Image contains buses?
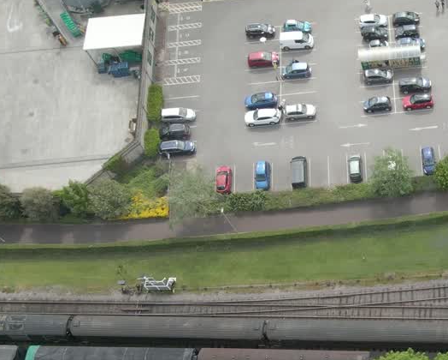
Yes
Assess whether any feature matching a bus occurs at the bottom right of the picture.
Yes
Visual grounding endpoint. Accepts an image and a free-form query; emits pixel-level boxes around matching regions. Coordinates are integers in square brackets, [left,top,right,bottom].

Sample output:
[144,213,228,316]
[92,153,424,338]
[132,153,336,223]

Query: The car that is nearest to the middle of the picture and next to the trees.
[215,168,234,196]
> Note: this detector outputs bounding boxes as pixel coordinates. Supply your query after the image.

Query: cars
[246,92,278,110]
[215,168,234,196]
[398,76,433,95]
[253,162,272,191]
[390,11,422,28]
[393,24,422,40]
[246,51,281,69]
[345,154,364,185]
[356,13,390,29]
[358,25,391,43]
[246,107,281,128]
[397,36,427,51]
[163,107,197,125]
[281,63,312,80]
[362,96,393,114]
[281,104,319,122]
[160,139,198,159]
[362,69,393,87]
[283,20,311,33]
[159,122,192,140]
[420,147,436,176]
[243,22,278,42]
[404,94,433,111]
